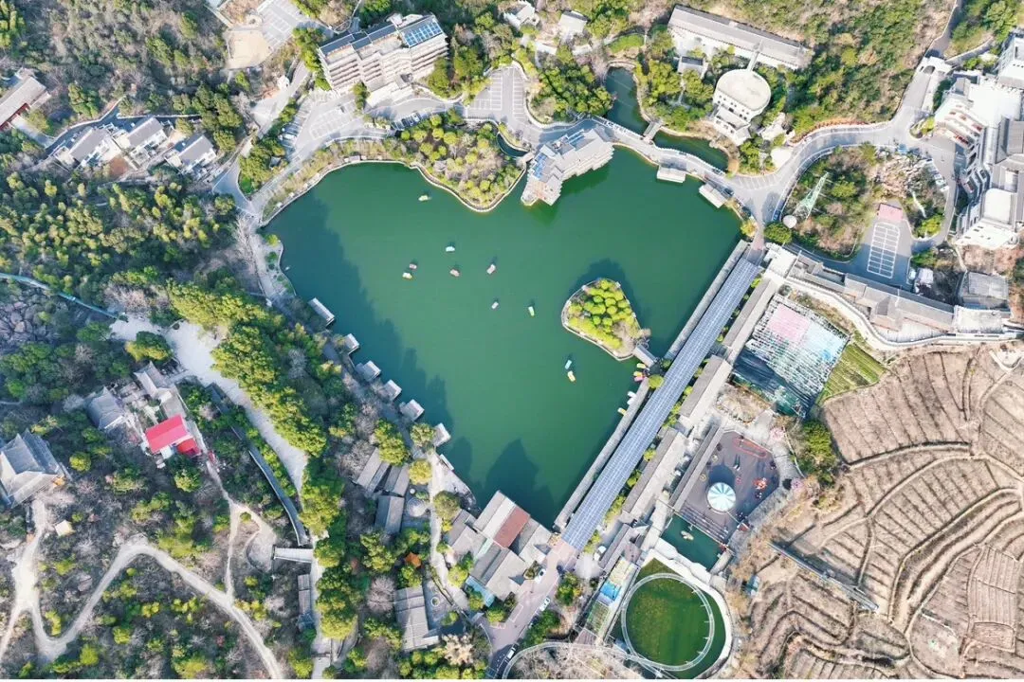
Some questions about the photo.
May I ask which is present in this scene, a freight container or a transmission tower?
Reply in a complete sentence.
Of the two, only a transmission tower appears.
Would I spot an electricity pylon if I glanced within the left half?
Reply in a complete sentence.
No, there's no electricity pylon to be seen within the left half.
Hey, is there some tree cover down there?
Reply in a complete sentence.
Yes, there is tree cover in the image.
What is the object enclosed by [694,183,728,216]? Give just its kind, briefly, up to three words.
shed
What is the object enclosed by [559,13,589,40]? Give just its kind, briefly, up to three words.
house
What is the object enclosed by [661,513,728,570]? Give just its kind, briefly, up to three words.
swimming pool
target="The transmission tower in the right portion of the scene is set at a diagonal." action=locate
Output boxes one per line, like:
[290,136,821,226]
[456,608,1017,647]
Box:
[790,171,835,225]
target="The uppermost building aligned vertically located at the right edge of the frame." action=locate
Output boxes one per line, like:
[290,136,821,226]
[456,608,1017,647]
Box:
[930,42,1024,252]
